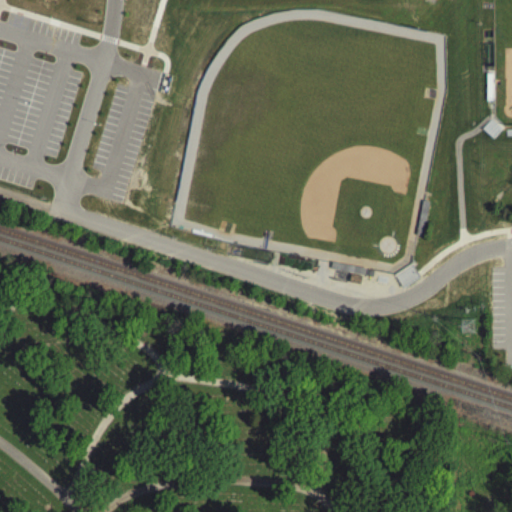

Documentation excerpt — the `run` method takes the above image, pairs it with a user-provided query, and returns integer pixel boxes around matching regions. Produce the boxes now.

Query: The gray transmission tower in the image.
[460,318,477,334]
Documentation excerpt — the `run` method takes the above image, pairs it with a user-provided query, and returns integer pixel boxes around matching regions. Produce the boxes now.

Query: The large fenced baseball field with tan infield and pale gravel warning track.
[172,10,446,274]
